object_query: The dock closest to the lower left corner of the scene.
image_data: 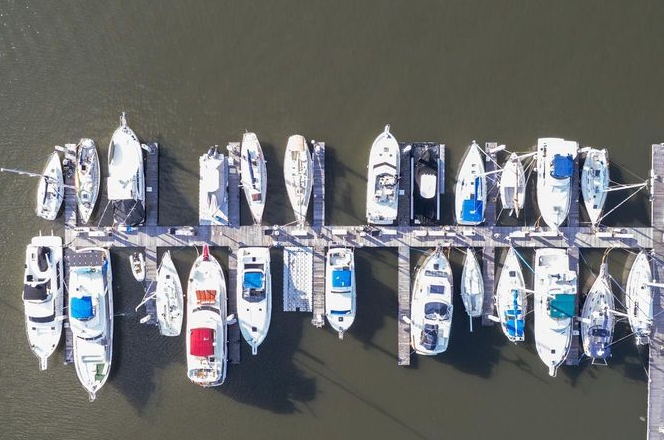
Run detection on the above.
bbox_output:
[63,247,75,365]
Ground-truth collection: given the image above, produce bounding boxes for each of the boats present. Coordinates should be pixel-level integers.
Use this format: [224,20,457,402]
[409,244,454,357]
[27,245,117,401]
[531,140,578,238]
[453,142,507,228]
[98,112,149,228]
[365,125,401,228]
[528,245,576,376]
[1,152,68,224]
[239,132,269,228]
[136,246,187,335]
[44,138,102,227]
[234,244,275,355]
[577,141,649,229]
[458,247,484,332]
[281,135,315,230]
[200,149,226,219]
[623,247,664,381]
[494,245,551,341]
[129,251,146,293]
[184,244,230,385]
[579,246,652,370]
[24,231,68,371]
[495,148,539,228]
[321,238,359,340]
